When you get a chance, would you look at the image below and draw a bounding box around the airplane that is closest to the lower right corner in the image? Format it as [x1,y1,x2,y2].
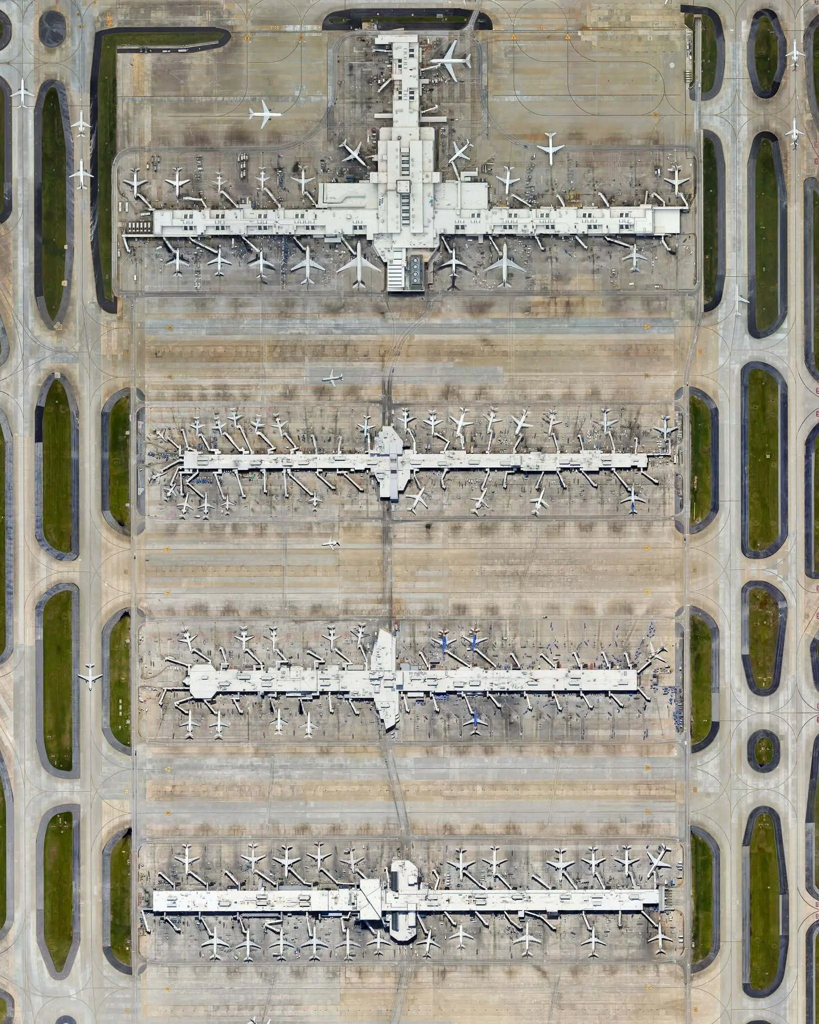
[648,924,674,955]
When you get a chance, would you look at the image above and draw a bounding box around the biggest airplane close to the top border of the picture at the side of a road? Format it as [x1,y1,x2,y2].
[429,39,471,82]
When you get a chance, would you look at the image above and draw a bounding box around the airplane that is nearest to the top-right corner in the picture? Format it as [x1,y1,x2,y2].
[786,40,805,66]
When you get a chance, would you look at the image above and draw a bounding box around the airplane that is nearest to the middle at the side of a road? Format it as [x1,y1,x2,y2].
[405,486,427,513]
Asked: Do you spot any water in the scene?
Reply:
No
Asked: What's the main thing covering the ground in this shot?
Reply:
paved ground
